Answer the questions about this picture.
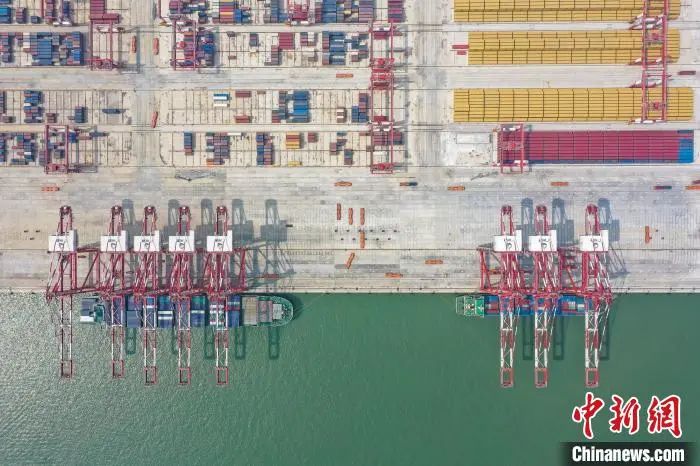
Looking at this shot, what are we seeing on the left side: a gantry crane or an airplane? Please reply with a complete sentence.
The one visible on the left side is a gantry crane.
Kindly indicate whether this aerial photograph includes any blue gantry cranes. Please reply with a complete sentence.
No, I can see no blue gantry crane in this picture.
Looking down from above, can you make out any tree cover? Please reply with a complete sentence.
No, there is no tree cover in the image.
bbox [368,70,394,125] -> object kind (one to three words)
container crane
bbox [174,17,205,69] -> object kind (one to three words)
container crane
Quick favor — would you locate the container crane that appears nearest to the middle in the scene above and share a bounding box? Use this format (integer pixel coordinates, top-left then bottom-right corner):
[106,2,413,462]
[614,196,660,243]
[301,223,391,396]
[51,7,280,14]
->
[368,123,394,174]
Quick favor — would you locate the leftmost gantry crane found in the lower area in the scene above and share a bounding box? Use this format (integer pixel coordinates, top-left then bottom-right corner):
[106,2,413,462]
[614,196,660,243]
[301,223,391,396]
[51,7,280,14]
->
[42,203,106,377]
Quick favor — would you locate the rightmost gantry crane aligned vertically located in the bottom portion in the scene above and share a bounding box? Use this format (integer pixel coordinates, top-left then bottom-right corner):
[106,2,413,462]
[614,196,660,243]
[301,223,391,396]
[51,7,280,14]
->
[556,202,614,387]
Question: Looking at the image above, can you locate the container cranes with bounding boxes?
[40,0,79,26]
[90,18,126,74]
[174,17,205,69]
[96,203,151,377]
[626,70,667,125]
[42,203,106,377]
[286,0,312,26]
[131,203,183,384]
[206,203,249,384]
[491,122,524,174]
[368,123,394,174]
[46,123,85,175]
[626,16,667,68]
[510,202,559,387]
[368,70,394,125]
[167,203,215,384]
[556,202,614,387]
[158,0,191,26]
[478,202,523,387]
[368,17,394,71]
